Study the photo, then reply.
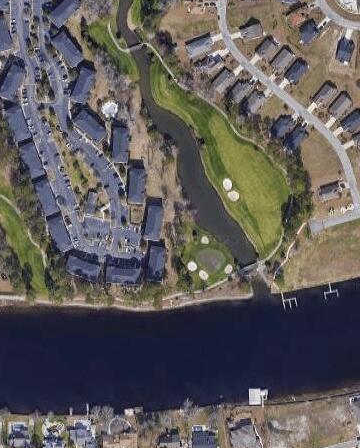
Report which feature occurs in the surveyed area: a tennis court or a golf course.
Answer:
golf course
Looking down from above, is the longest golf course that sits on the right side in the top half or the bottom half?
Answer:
top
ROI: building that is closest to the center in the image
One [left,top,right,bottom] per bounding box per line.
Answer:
[145,206,164,241]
